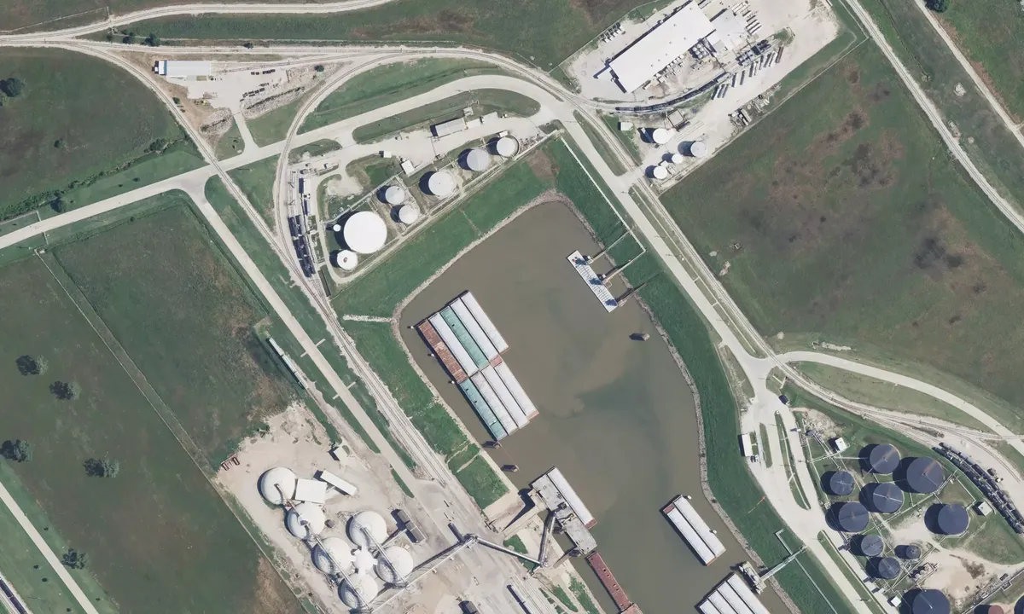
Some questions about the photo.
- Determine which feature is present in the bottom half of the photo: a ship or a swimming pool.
ship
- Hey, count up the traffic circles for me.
0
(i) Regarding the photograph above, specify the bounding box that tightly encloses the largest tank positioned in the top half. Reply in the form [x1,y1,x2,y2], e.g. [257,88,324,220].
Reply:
[343,209,387,254]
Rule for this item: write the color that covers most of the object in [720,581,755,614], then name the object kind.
white ship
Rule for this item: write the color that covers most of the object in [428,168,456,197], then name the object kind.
white storage tank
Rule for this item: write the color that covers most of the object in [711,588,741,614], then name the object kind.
white ship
